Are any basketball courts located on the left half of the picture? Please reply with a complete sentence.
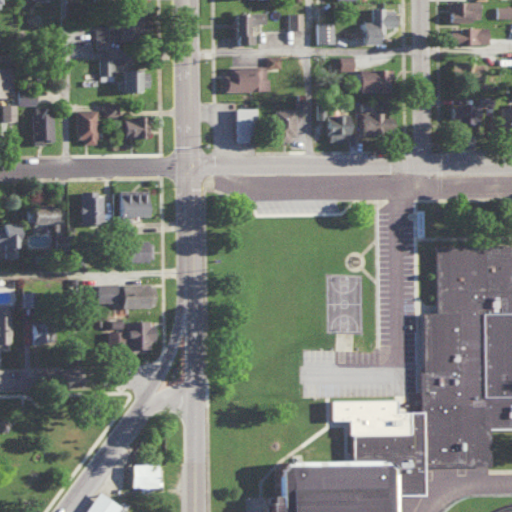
No, on the left half of the picture there is no basketball court.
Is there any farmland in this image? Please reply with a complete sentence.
No, the picture contains no farmland.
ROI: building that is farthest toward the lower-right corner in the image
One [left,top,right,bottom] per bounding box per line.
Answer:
[276,246,512,512]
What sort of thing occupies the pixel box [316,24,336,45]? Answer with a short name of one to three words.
building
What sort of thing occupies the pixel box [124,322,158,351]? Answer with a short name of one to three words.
house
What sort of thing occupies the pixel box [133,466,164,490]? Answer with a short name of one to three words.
house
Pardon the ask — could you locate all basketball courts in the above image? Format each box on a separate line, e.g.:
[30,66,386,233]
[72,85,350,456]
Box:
[326,275,362,334]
